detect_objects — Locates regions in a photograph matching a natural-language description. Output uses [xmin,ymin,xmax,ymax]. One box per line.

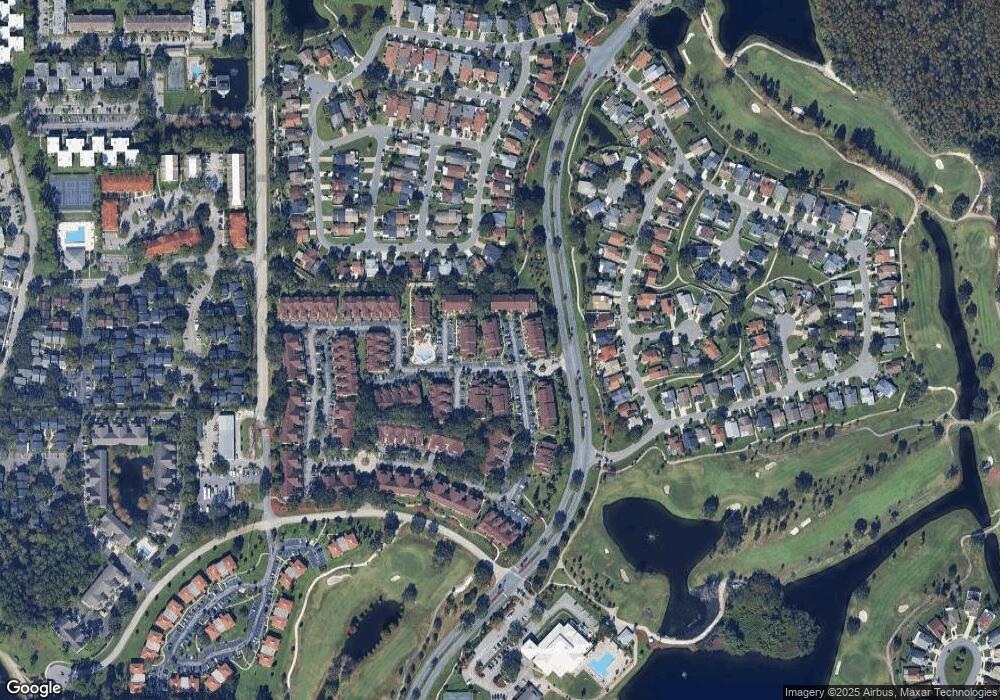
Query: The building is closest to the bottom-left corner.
[54,611,88,648]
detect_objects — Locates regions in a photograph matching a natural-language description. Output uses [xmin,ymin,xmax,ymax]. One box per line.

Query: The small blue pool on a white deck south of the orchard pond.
[137,538,157,560]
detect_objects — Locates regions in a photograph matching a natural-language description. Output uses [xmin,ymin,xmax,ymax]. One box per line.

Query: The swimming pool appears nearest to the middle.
[411,334,434,364]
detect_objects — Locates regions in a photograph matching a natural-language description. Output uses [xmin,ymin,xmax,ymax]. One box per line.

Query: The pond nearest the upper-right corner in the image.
[647,9,690,78]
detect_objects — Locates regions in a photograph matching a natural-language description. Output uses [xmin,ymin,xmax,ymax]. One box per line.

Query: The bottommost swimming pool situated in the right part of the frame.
[586,637,634,692]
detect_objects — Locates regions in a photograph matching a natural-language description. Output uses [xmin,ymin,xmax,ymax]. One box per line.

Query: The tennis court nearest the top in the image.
[167,57,185,90]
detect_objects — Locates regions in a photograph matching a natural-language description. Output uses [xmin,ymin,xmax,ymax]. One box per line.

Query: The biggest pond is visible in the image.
[603,497,724,639]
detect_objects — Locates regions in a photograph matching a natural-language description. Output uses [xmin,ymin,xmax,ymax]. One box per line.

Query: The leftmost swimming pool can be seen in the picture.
[58,222,94,251]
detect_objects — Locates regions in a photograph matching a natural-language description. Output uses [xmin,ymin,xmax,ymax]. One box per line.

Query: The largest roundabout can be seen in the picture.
[934,638,986,696]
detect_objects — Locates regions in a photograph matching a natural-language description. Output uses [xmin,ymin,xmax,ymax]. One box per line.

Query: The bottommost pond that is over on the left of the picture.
[344,599,402,661]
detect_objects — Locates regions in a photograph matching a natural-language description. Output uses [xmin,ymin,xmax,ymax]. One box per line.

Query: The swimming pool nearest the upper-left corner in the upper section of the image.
[188,58,205,80]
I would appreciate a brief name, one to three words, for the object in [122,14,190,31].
building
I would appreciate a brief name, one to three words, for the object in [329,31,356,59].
house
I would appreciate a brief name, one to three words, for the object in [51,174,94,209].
tennis court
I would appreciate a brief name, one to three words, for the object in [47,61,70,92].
building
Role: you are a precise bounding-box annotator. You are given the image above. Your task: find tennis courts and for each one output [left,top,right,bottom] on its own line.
[167,57,185,90]
[443,692,473,700]
[51,174,94,209]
